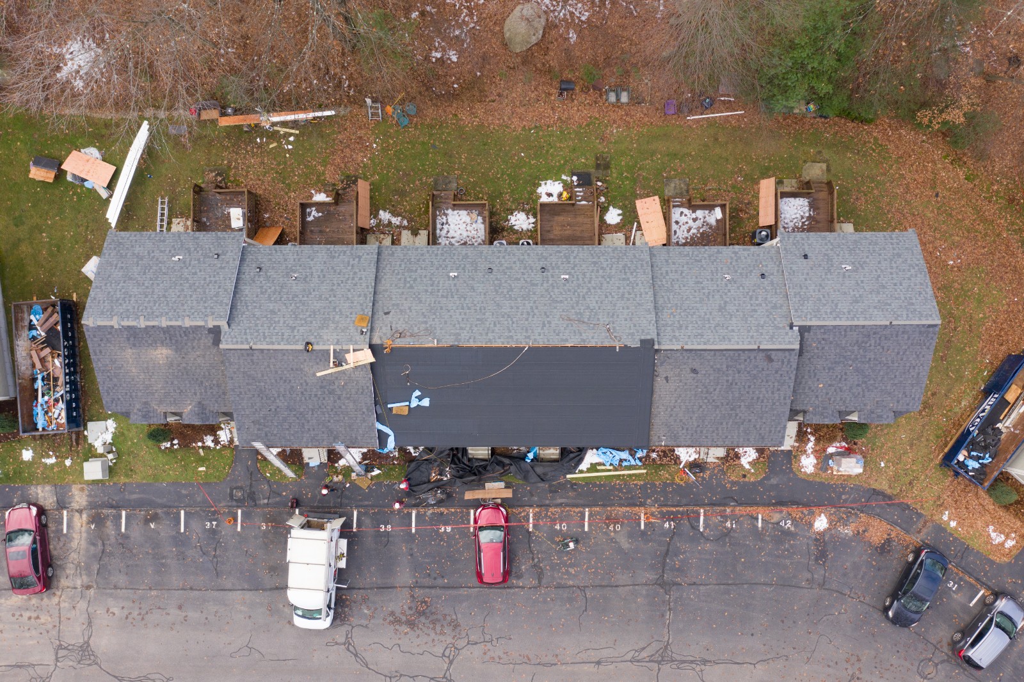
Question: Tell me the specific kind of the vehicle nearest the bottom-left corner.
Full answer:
The vehicle nearest the bottom-left corner in the image is an automobile.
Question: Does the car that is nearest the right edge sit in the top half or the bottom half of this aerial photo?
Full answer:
It is in the bottom half that the car that is nearest the right edge appears.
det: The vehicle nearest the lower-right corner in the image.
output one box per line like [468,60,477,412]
[946,588,1023,674]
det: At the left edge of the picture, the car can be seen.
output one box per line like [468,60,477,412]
[2,503,53,595]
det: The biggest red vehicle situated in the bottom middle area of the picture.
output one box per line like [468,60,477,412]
[471,500,513,584]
